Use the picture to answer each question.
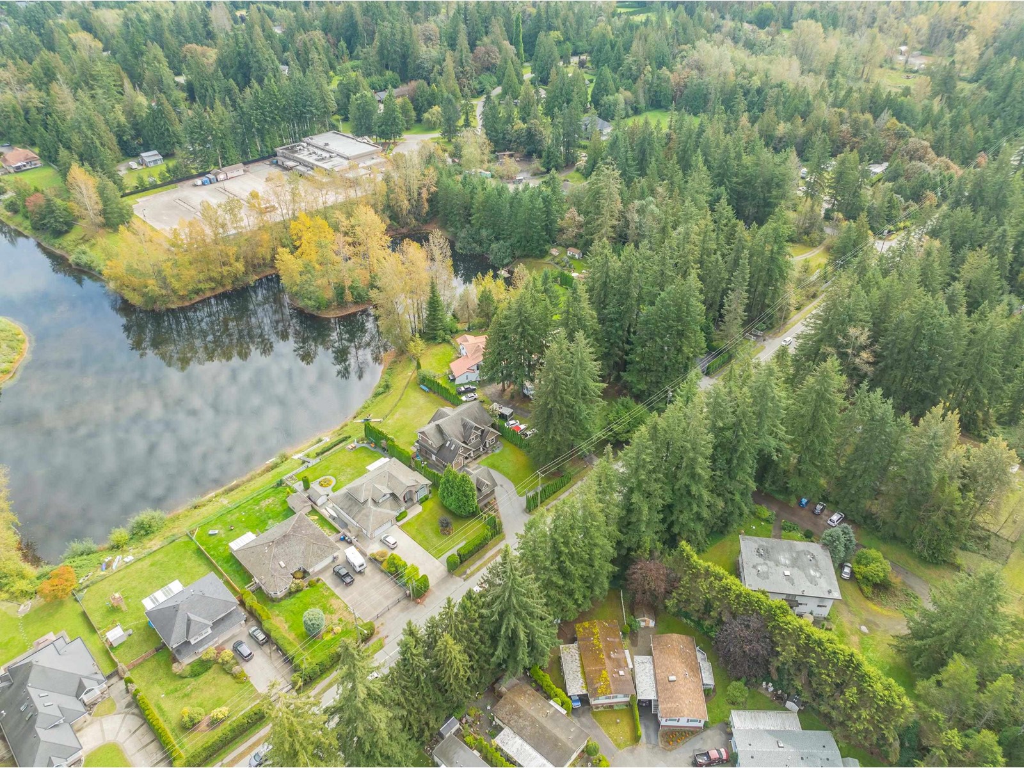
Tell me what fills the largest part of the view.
trees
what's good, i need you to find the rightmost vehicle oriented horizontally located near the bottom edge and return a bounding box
[694,745,732,764]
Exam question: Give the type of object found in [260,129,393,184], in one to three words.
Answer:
building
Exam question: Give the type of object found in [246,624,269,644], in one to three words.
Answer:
car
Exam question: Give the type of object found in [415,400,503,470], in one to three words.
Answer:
house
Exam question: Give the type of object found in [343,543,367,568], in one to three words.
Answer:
vehicle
